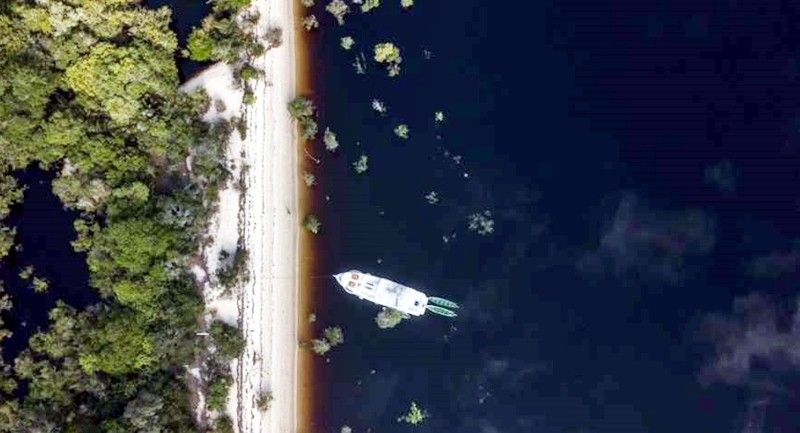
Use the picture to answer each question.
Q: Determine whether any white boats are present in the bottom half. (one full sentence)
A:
Yes, a white boat is visible in the bottom half.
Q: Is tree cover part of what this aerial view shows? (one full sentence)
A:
Yes, tree cover shows up in the scene.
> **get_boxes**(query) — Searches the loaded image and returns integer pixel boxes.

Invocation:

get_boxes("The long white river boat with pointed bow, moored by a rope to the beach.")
[332,272,427,317]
